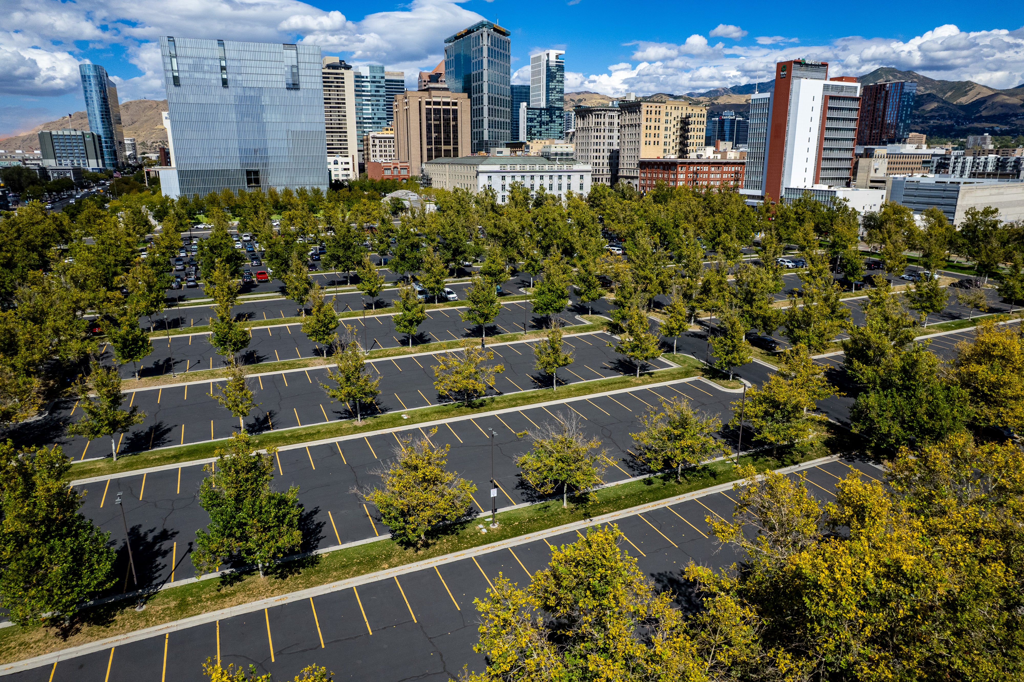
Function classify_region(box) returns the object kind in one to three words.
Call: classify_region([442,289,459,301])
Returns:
vehicle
